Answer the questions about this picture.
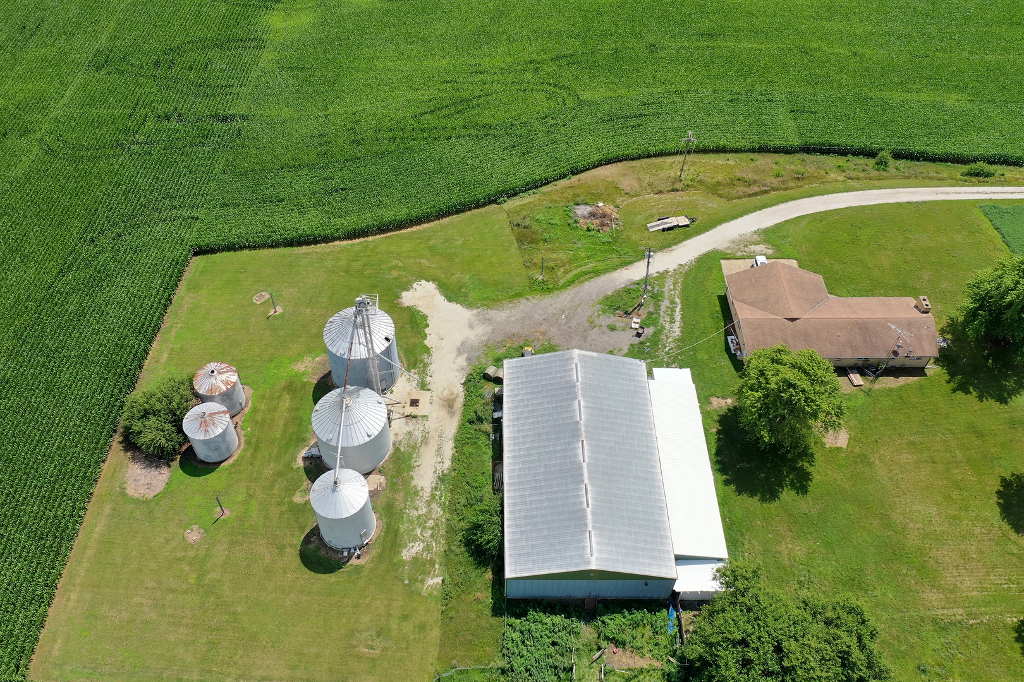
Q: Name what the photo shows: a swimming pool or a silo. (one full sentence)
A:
There is a silo in the scene.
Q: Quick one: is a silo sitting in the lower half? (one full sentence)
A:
Yes, the scene does show a silo in the lower half.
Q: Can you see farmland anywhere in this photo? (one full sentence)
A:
Yes, the picture does contain farmland.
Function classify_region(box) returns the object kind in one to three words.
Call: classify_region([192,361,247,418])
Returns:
silo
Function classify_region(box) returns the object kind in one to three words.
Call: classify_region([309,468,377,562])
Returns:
silo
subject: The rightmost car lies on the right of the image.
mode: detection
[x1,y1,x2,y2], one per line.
[750,253,769,267]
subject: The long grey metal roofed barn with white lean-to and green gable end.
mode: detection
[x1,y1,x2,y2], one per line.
[504,349,729,600]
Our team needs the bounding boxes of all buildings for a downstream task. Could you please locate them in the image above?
[724,261,940,369]
[504,349,729,600]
